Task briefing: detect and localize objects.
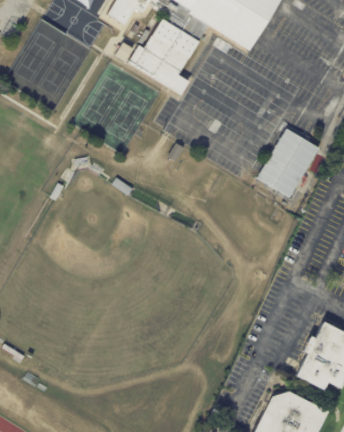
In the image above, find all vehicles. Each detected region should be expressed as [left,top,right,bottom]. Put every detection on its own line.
[290,248,299,254]
[256,314,266,322]
[286,358,299,368]
[252,324,262,332]
[248,334,258,342]
[284,256,294,264]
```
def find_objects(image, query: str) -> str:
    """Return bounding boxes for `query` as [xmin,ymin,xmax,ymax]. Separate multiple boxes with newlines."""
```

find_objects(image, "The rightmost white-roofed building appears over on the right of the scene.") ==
[294,322,344,390]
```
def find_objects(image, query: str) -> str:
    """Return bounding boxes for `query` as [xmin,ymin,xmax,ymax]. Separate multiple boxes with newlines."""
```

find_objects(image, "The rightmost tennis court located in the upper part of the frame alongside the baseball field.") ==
[74,59,160,151]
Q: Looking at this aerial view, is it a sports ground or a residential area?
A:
sports ground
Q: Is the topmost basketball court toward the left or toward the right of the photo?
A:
left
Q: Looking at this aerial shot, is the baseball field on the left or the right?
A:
left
